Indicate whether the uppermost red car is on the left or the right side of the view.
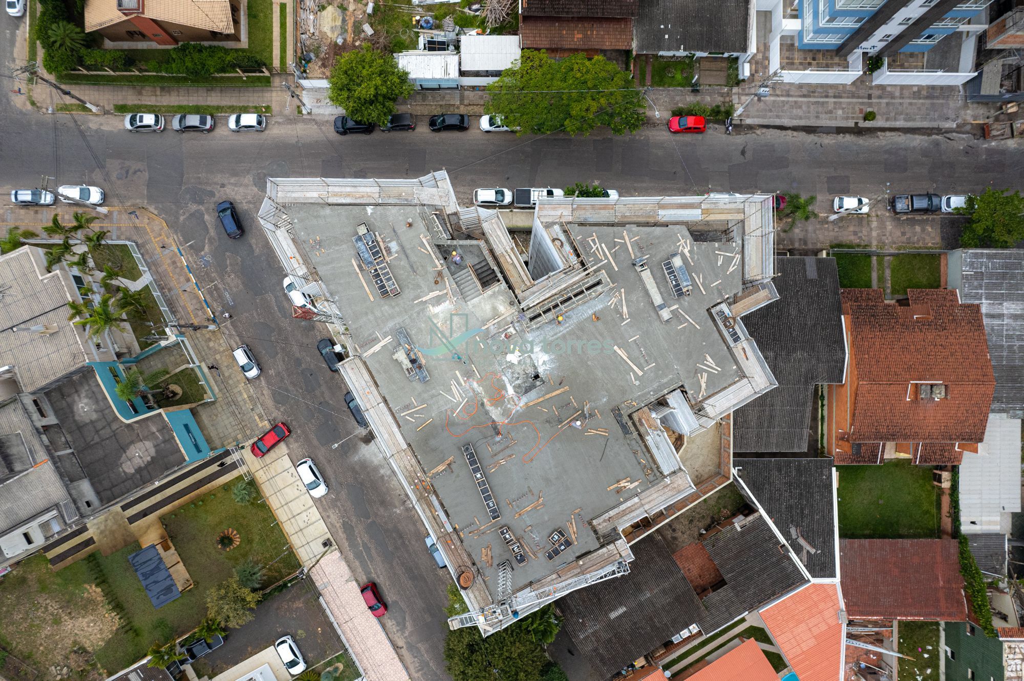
right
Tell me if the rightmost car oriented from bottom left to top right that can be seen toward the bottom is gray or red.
red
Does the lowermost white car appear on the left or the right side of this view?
left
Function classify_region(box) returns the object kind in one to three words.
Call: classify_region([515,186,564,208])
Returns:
truck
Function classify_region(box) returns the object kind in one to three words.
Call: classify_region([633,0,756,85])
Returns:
house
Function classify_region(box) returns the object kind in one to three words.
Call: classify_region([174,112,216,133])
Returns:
car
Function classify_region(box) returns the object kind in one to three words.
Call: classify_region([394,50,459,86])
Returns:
shed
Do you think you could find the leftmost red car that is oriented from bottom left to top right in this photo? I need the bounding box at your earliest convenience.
[251,422,292,456]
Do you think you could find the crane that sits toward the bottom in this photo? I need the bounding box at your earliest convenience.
[445,557,631,632]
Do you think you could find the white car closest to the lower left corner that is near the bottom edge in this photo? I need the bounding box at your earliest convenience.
[274,632,307,676]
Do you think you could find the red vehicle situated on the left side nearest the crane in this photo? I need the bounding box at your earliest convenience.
[359,578,389,619]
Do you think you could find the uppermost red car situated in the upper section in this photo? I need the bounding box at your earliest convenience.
[667,113,706,135]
